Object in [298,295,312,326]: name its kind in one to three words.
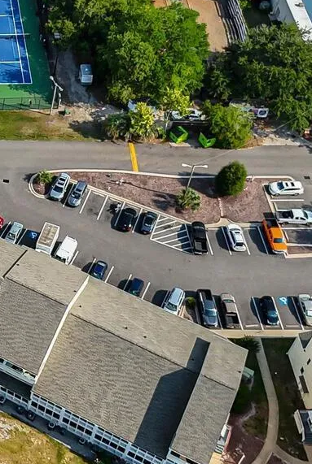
car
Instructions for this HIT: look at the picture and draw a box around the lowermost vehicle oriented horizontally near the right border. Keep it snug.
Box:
[276,209,312,225]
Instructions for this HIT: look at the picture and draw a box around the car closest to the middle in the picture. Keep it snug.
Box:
[139,211,157,235]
